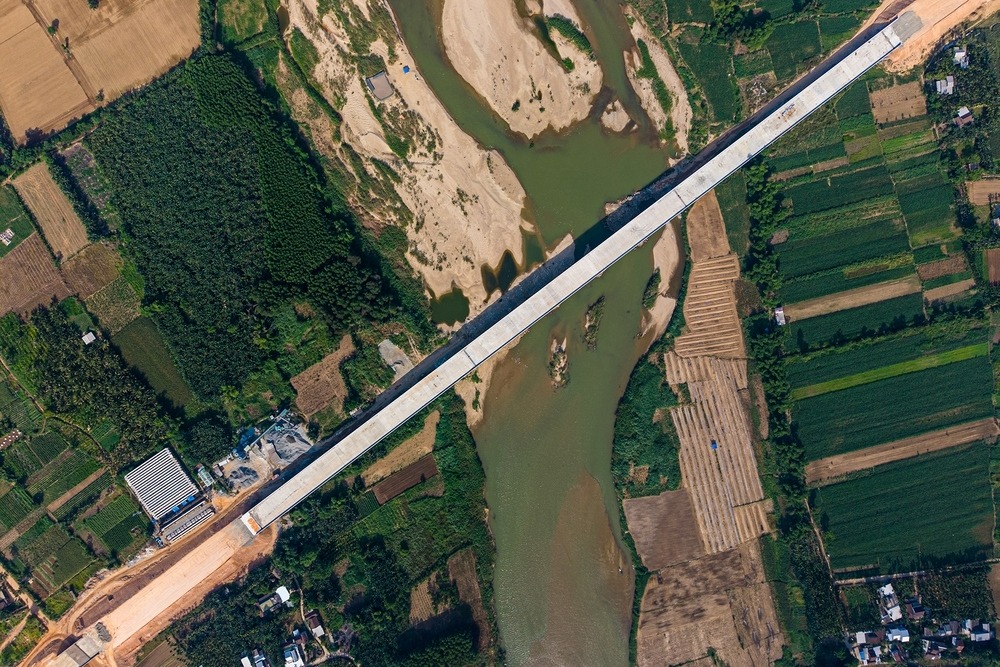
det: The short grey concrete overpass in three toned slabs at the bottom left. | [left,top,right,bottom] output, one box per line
[45,633,102,667]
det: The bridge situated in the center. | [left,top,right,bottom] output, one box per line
[236,14,910,537]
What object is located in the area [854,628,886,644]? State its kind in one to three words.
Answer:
house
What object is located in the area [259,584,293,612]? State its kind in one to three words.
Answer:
house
